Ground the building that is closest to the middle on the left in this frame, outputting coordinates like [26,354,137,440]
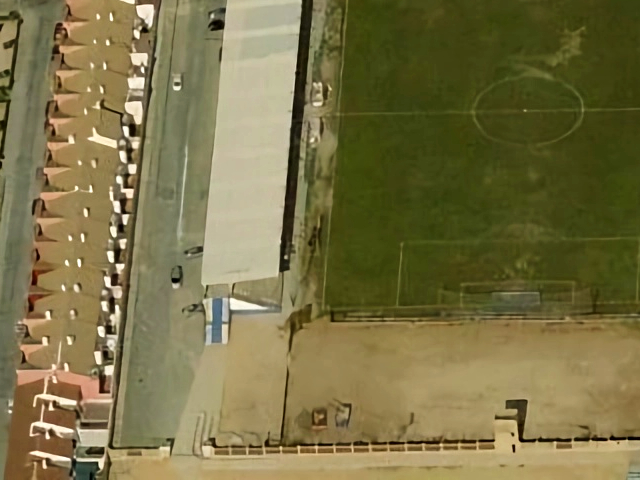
[206,296,229,345]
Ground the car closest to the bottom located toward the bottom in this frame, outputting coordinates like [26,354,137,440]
[181,302,206,315]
